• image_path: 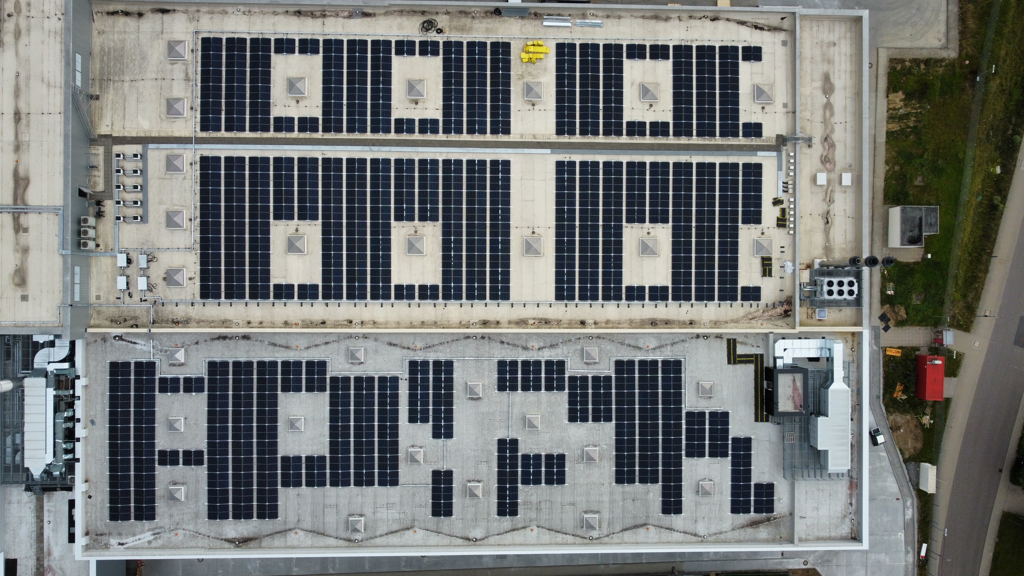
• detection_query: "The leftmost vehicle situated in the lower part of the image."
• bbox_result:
[869,427,888,451]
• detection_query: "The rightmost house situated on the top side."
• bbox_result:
[889,206,939,247]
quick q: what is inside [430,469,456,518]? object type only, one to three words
solar array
